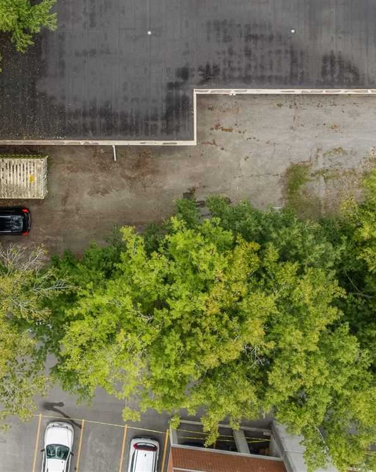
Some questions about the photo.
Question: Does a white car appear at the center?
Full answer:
No, I can find no white car at the center.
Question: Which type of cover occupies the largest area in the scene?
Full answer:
For the most part, this view shows trees.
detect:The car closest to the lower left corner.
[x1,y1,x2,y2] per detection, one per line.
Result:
[39,419,74,472]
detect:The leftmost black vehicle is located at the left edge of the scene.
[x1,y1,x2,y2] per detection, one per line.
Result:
[0,201,33,233]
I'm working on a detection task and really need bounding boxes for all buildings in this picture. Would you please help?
[163,426,317,472]
[0,0,376,145]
